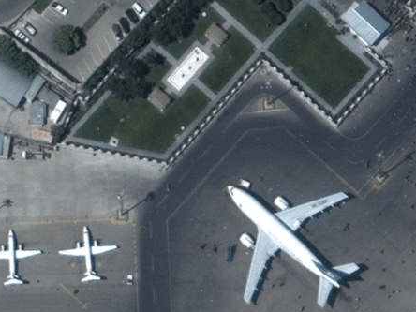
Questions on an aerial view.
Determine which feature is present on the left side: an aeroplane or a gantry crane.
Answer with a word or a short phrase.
aeroplane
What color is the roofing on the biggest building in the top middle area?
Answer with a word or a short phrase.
white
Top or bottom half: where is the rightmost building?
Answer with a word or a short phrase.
top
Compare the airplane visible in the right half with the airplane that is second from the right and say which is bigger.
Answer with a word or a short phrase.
the airplane visible in the right half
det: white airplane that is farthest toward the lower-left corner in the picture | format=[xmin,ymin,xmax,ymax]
[0,227,41,281]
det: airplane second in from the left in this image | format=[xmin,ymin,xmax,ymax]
[58,225,116,279]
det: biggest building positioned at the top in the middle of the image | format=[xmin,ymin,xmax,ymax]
[167,46,209,92]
